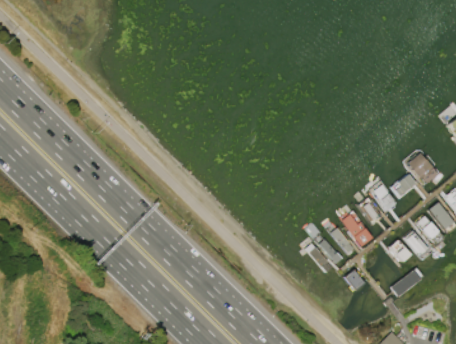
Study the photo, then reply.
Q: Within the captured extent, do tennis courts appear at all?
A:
No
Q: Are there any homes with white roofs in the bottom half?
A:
Yes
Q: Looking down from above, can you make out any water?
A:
Yes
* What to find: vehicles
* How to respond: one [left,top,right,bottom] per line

[429,331,434,340]
[46,128,55,136]
[63,133,72,142]
[206,270,214,278]
[414,326,419,334]
[16,99,25,108]
[91,171,100,180]
[60,178,70,188]
[184,310,195,320]
[247,312,256,320]
[110,176,120,186]
[46,186,56,196]
[422,330,428,338]
[258,333,266,342]
[36,104,44,113]
[141,198,150,207]
[92,161,100,170]
[224,302,233,310]
[436,332,442,342]
[74,164,82,172]
[191,248,200,256]
[0,159,8,169]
